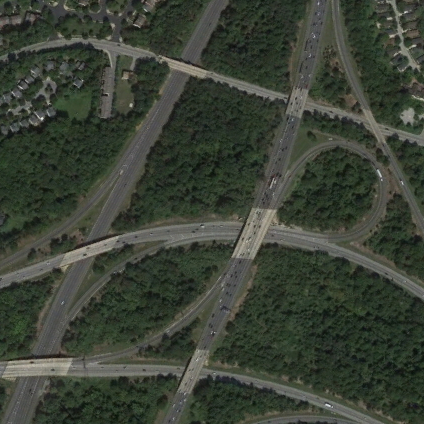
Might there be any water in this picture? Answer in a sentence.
No, the picture contains no water.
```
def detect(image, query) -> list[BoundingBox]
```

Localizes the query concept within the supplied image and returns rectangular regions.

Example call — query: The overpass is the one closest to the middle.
[231,207,276,258]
